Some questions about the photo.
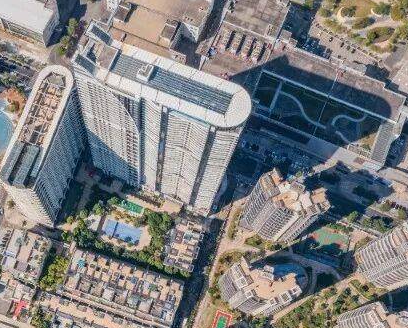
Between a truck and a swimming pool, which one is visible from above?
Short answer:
swimming pool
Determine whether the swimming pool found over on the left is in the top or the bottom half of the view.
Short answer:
bottom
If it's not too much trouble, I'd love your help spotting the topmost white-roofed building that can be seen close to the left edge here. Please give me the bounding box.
[0,0,62,55]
